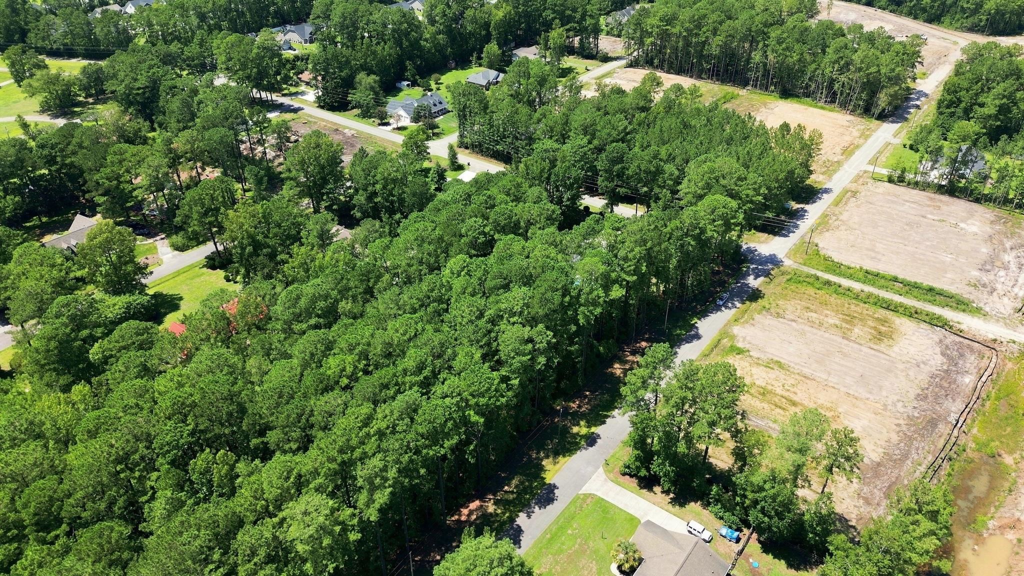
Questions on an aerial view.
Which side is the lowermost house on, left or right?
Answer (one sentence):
The lowermost house appears in the right half of the scene.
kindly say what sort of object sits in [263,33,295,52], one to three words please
house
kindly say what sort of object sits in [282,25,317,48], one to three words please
house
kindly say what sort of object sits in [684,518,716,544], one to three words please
car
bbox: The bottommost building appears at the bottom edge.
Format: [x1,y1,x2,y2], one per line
[626,519,735,576]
